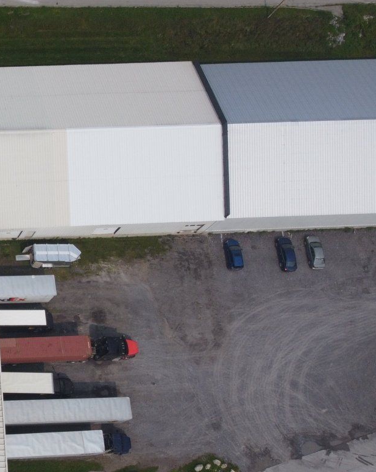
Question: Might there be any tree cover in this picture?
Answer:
No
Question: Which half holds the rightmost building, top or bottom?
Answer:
top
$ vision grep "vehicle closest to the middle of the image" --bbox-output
[223,239,247,270]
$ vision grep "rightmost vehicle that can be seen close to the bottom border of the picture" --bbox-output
[103,425,133,453]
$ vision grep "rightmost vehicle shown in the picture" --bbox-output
[304,236,328,269]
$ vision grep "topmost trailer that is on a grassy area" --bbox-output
[11,244,85,269]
